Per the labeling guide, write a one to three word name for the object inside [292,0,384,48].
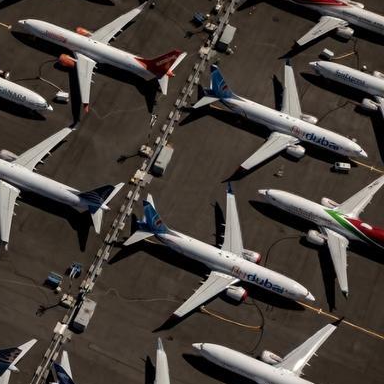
airplane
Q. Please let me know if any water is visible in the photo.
No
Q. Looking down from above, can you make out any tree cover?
No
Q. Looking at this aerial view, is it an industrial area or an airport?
airport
